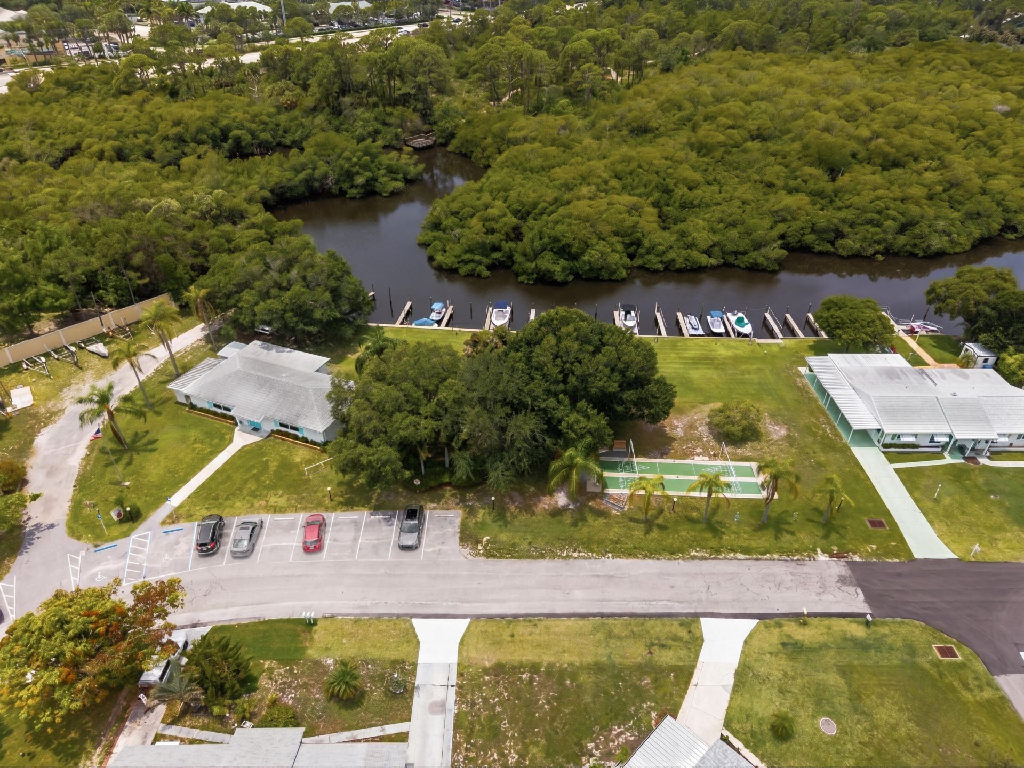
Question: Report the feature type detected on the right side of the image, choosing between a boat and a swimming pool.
boat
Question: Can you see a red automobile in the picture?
Yes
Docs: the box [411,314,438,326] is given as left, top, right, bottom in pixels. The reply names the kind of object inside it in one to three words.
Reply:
boat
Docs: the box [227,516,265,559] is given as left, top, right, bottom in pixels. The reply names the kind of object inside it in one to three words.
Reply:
car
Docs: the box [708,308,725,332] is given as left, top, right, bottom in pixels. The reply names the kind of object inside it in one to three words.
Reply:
boat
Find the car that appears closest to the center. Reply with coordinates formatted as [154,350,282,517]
[397,502,426,548]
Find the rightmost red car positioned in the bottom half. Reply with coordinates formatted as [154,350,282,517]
[301,513,328,552]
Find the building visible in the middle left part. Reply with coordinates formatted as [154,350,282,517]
[167,340,344,442]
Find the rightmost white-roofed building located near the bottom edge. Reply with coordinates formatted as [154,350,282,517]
[621,713,751,768]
